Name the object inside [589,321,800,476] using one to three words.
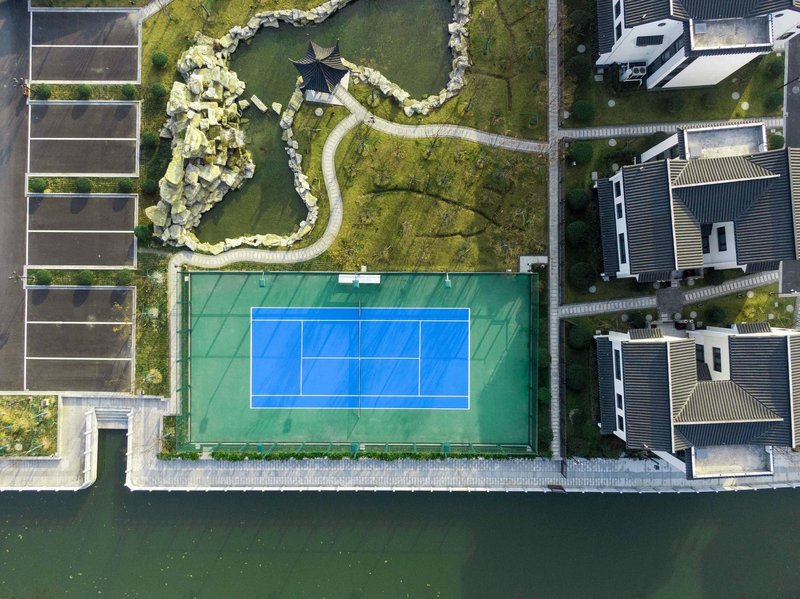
house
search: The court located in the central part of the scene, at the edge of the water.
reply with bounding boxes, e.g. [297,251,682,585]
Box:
[188,273,533,445]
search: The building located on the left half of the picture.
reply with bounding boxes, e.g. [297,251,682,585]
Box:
[283,28,354,106]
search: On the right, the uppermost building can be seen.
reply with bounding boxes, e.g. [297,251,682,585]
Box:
[590,0,800,87]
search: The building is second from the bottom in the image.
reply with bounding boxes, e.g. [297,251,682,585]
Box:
[585,123,800,281]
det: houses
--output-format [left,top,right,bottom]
[585,123,800,281]
[590,0,800,87]
[589,321,800,476]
